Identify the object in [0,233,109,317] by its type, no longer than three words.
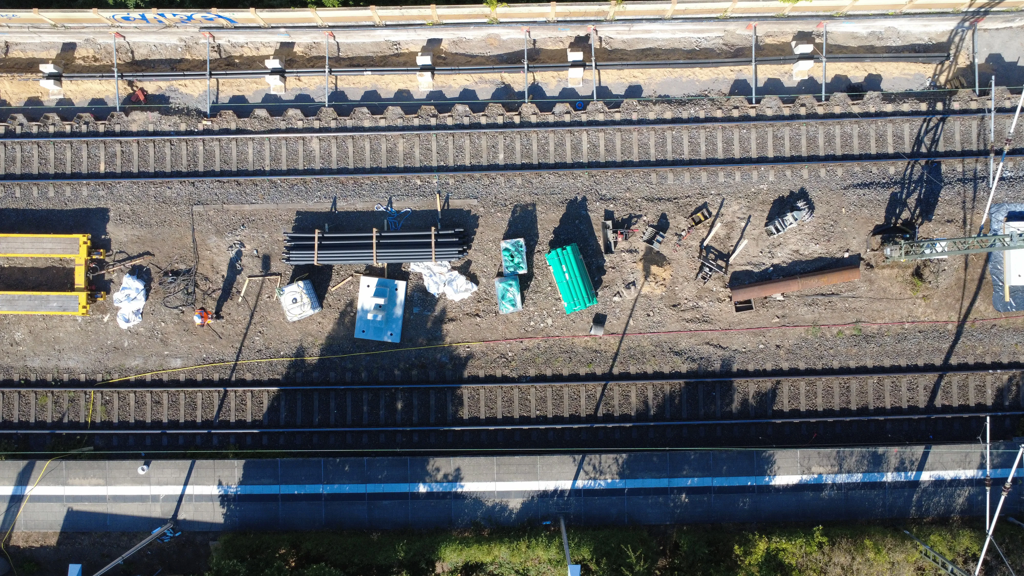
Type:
trailer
